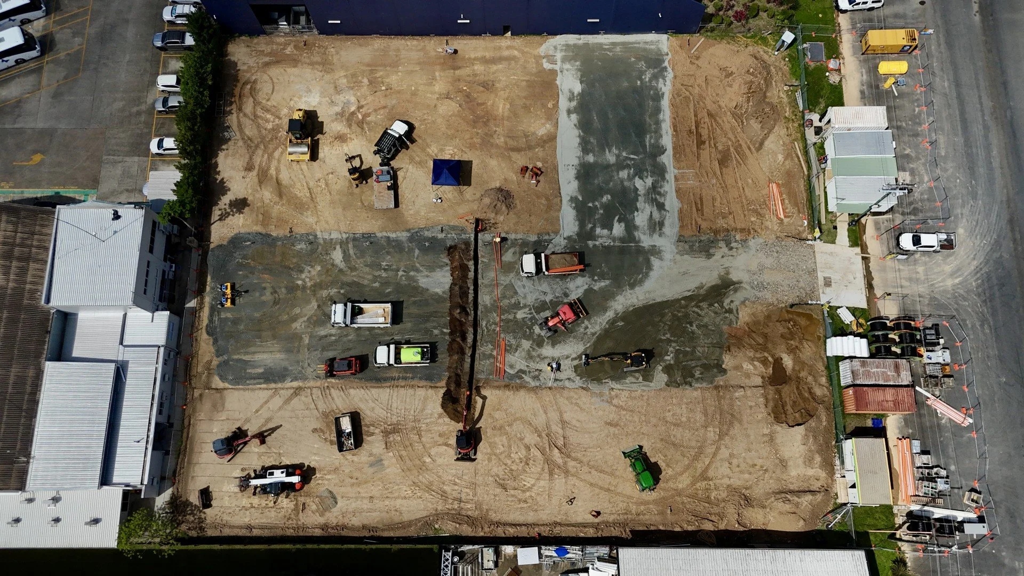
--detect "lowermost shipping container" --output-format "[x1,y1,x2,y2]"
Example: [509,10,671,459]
[843,387,918,413]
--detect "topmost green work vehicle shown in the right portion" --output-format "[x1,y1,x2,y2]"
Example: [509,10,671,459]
[619,439,659,492]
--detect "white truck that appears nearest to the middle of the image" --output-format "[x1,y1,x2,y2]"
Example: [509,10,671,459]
[521,248,585,277]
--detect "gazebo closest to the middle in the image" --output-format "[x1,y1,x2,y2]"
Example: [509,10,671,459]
[432,159,461,194]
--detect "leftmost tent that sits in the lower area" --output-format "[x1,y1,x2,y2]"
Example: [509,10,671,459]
[516,546,539,566]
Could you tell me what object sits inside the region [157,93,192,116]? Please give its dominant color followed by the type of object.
gray car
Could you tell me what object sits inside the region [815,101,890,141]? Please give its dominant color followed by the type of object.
white shipping container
